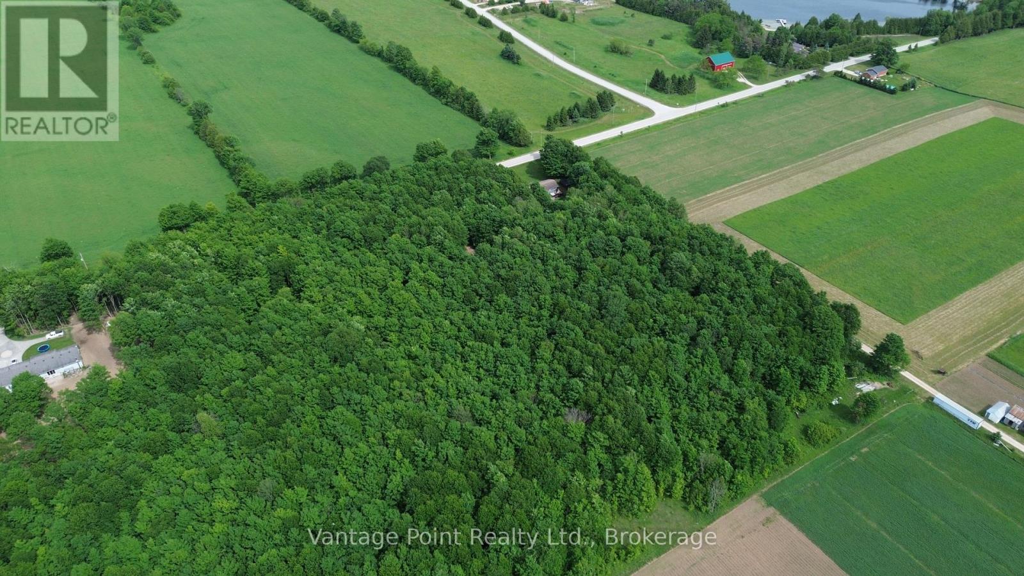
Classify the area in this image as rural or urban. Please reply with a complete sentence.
The area is rural.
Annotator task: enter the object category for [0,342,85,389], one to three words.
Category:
house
